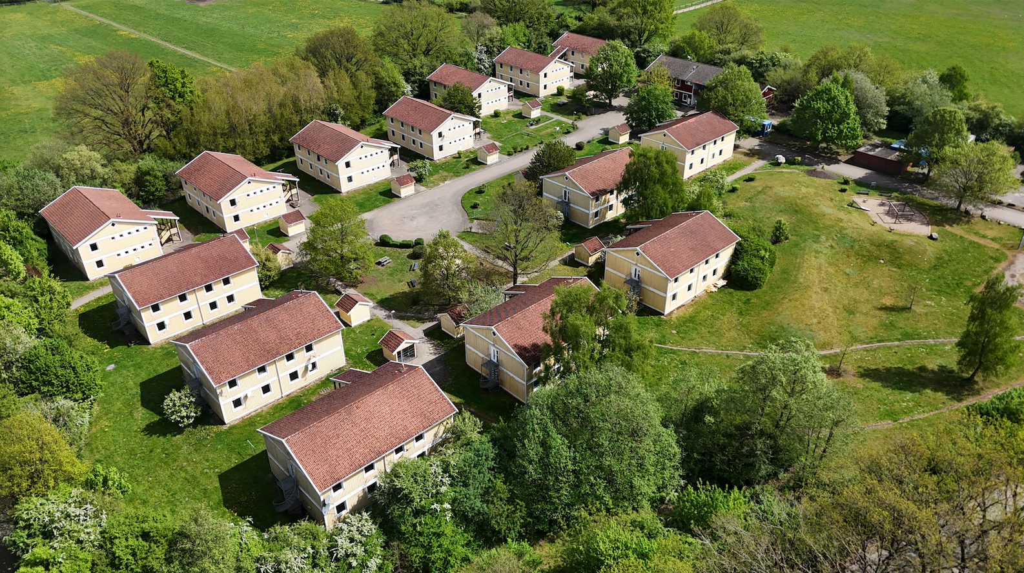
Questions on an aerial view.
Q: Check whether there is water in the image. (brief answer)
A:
No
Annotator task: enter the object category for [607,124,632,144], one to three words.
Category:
shed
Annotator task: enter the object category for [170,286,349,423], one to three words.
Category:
house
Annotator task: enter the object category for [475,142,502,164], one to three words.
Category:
shed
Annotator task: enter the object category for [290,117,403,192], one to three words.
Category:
house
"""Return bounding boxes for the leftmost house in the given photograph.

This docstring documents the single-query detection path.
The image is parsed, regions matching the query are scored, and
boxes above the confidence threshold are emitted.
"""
[40,181,182,278]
